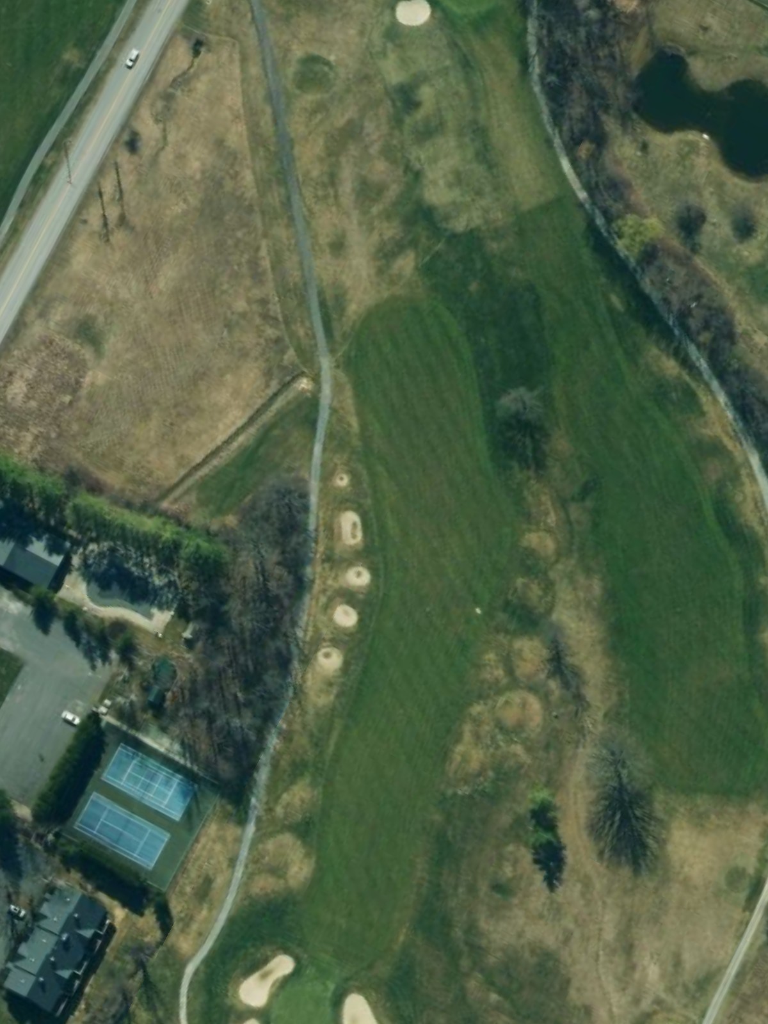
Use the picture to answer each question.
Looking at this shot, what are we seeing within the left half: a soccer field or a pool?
pool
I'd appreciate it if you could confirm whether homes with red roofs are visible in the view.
No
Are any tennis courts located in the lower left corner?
Yes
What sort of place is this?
golf course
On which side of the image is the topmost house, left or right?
left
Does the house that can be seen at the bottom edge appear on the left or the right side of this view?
left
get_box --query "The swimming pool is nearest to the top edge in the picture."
[63,566,174,638]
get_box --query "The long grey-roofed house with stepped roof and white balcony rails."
[1,882,108,1017]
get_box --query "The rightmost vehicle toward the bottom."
[61,711,79,725]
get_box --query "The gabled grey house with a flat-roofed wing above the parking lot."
[0,513,69,586]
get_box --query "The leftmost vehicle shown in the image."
[9,904,26,918]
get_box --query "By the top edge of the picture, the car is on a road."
[126,49,139,68]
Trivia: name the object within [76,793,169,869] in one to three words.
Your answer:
tennis court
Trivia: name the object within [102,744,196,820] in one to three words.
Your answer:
tennis court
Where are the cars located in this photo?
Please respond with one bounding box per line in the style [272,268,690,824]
[9,904,26,918]
[61,711,79,725]
[126,49,139,68]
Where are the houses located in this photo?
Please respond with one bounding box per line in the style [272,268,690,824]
[1,882,108,1017]
[0,513,69,586]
